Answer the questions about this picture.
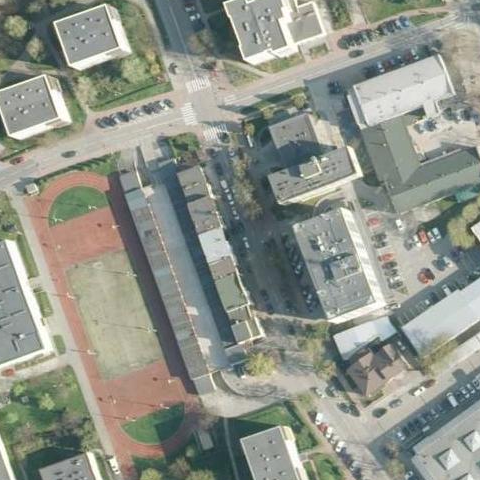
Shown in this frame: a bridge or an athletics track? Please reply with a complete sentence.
Visible in the photo is an athletics track.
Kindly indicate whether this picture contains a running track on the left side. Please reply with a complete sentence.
Yes, there is a running track on the left side.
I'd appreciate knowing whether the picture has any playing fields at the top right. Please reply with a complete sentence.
No, there is no playing field at the top right.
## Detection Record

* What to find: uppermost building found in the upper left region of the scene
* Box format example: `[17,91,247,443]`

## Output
[54,4,130,70]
